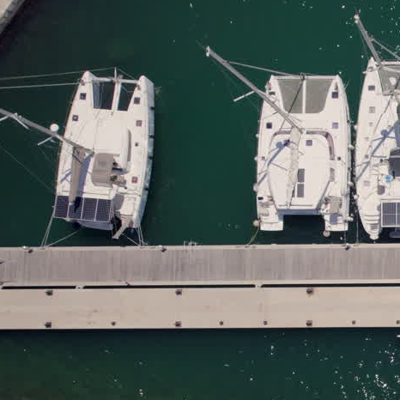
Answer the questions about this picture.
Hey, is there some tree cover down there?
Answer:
No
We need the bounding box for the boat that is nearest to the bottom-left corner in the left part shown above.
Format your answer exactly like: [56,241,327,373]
[76,216,119,234]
